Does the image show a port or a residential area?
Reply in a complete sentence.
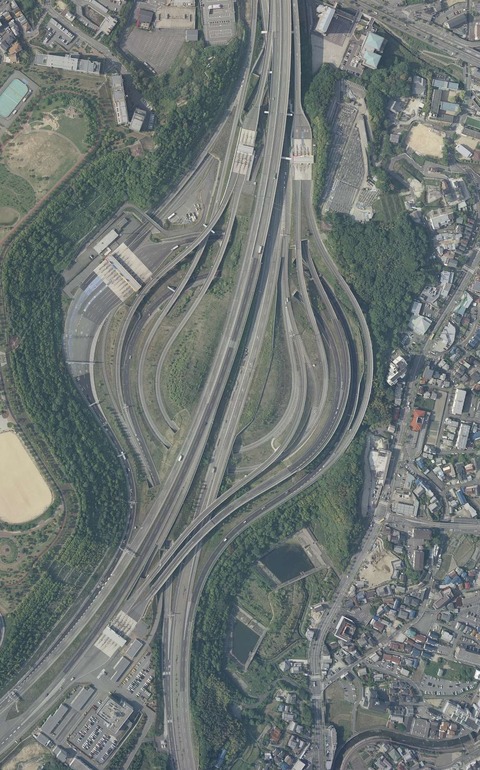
It's a residential area.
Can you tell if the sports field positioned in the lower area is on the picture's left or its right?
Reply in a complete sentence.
The sports field positioned in the lower area sits on the left side.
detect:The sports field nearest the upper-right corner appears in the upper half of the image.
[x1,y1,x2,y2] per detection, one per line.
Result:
[407,124,445,158]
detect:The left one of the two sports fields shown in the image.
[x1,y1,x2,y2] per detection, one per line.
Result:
[0,432,52,523]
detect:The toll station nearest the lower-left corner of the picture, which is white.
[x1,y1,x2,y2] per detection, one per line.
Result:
[95,611,137,657]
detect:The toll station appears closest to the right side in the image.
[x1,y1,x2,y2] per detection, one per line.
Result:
[291,138,314,180]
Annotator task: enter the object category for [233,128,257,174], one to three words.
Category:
toll station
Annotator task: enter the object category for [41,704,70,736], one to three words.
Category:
shed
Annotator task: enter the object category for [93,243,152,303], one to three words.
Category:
toll station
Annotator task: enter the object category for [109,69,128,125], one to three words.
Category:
building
